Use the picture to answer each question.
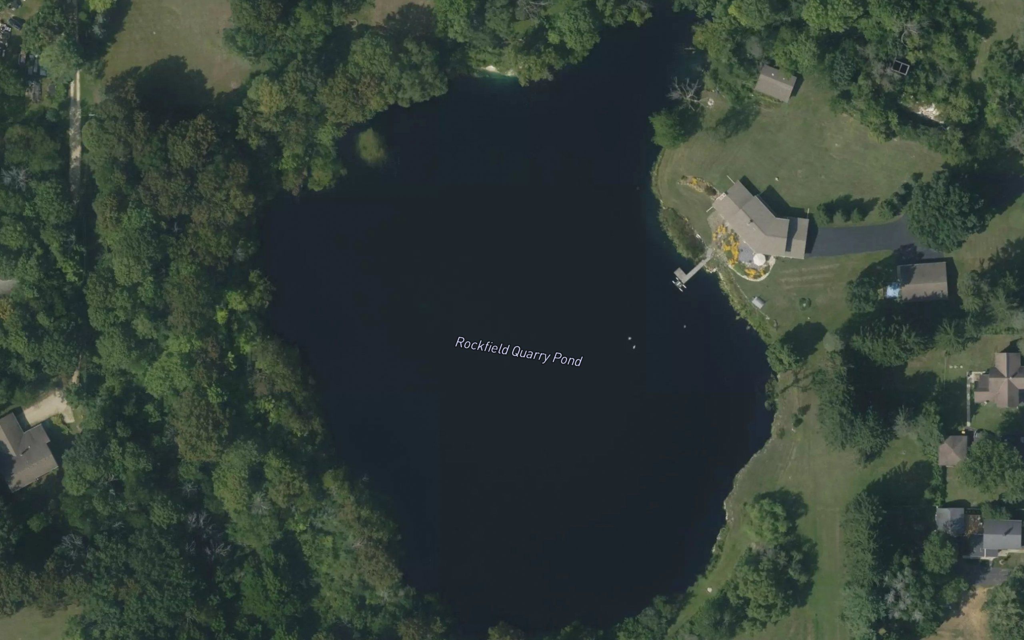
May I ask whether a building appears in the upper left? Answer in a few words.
No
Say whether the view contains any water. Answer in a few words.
Yes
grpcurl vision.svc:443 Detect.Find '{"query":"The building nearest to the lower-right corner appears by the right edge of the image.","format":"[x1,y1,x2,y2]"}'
[962,520,1022,558]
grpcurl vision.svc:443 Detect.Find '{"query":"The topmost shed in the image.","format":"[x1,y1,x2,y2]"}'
[754,65,797,103]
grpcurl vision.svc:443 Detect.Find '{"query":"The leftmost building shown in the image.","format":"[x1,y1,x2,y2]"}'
[0,413,58,492]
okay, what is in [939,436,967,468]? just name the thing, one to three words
shed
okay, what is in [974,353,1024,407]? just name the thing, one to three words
house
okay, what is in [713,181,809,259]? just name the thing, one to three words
house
